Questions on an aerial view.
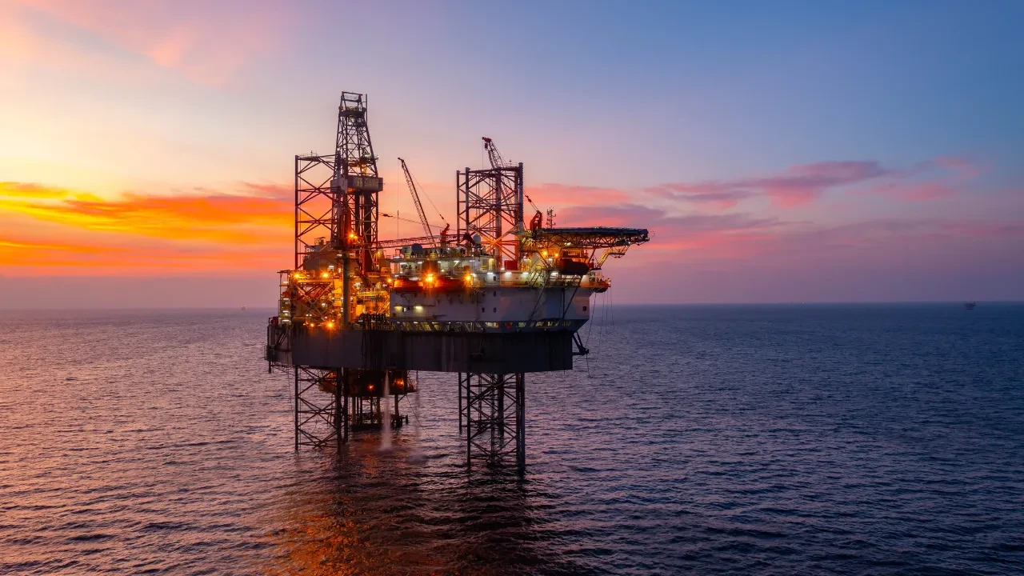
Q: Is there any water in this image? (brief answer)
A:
Yes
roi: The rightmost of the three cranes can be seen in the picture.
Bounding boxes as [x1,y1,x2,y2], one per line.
[481,142,551,247]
